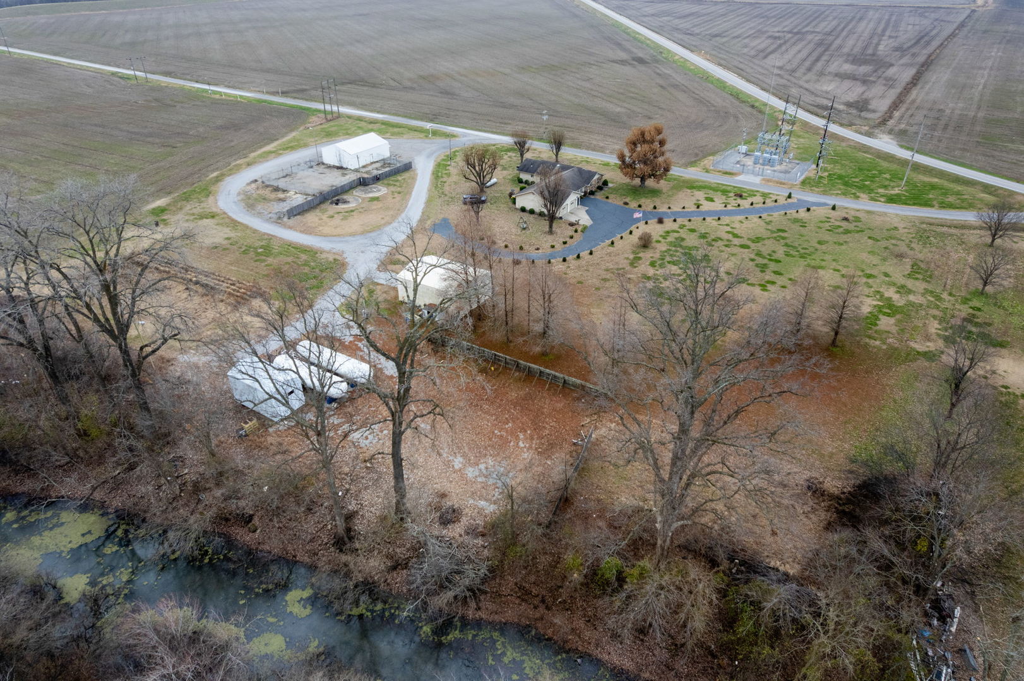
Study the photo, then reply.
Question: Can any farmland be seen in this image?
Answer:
Yes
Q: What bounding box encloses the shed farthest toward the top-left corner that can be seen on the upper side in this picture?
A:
[326,131,387,169]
